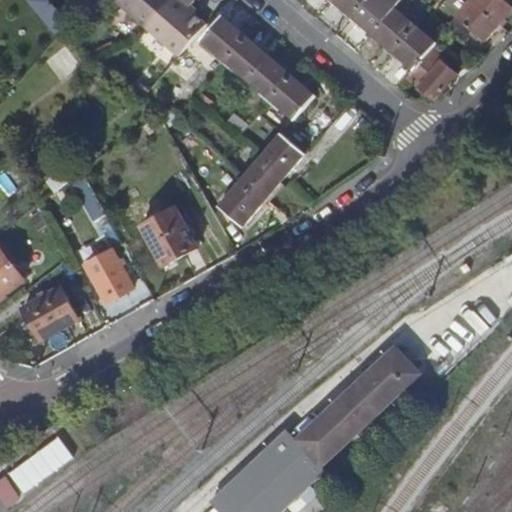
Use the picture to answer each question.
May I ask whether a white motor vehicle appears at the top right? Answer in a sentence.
Yes, looking at the top right, one can make out a white motor vehicle.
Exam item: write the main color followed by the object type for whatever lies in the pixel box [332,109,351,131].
white camper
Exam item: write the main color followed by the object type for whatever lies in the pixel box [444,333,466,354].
white vehicle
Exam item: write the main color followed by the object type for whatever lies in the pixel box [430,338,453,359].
white vehicle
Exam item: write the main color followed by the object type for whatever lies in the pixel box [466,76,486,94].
white car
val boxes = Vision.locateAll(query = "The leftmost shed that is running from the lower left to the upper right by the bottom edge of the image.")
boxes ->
[10,437,76,494]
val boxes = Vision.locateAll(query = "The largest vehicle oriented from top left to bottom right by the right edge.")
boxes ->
[460,306,492,336]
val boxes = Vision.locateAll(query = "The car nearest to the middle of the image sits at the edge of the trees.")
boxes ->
[292,219,313,236]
